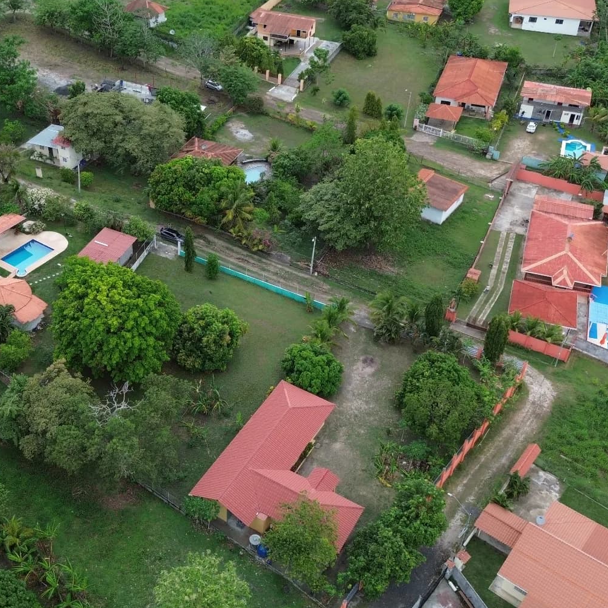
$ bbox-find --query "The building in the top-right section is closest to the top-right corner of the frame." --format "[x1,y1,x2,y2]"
[509,0,598,36]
